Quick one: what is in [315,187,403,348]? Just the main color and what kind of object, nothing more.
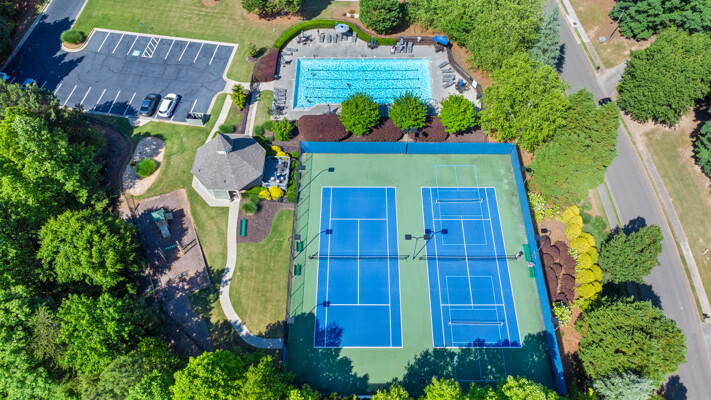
blue tennis court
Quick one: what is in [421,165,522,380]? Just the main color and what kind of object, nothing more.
blue tennis court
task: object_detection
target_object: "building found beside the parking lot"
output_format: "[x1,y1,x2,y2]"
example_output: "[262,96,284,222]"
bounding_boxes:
[192,133,270,204]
